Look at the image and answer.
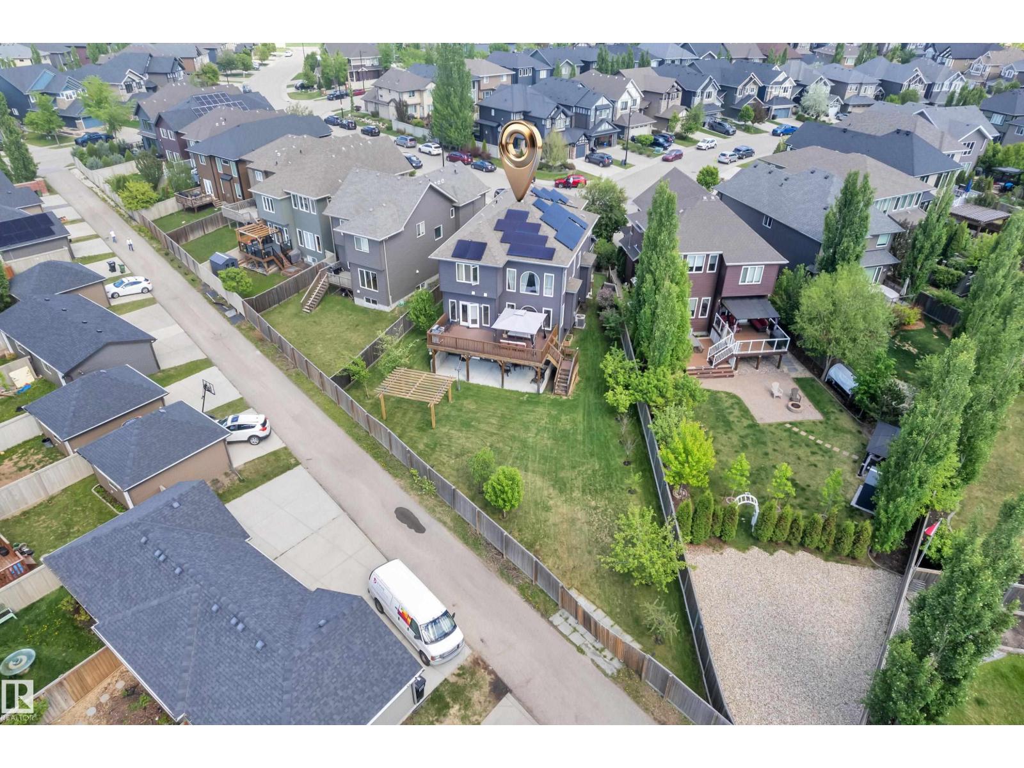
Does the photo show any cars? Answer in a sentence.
Yes, a car appears in the view.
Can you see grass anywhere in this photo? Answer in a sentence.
Yes, grass shows up in the scene.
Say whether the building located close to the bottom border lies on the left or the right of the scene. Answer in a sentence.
It is on the left.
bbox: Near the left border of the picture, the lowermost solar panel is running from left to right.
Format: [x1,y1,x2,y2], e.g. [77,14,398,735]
[0,213,55,248]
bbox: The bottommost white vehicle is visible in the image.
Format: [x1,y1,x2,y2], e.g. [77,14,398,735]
[369,560,472,676]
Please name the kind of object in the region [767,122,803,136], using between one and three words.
vehicle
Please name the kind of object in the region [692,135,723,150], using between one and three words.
car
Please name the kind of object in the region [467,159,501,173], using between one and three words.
car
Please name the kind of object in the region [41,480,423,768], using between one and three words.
building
